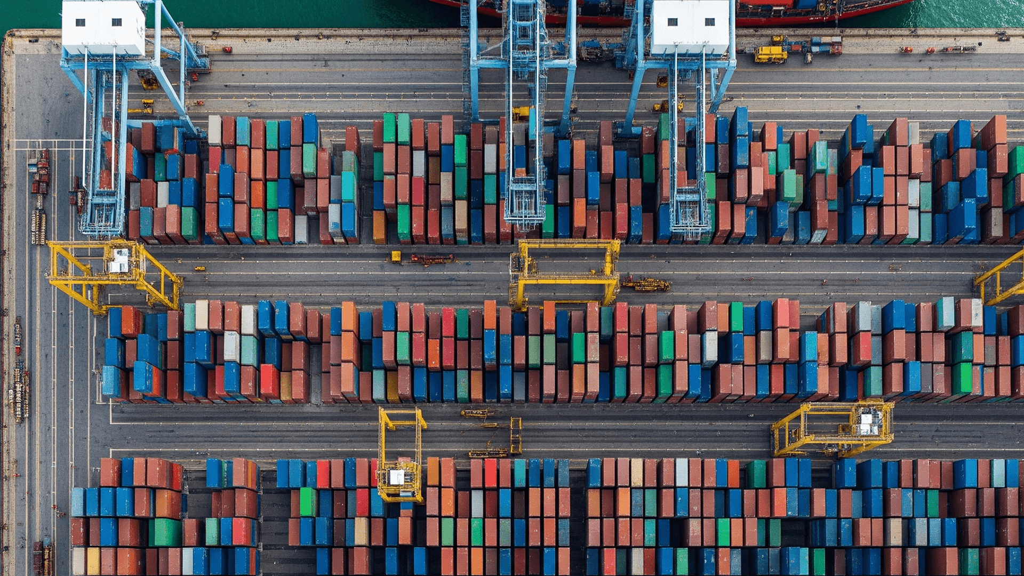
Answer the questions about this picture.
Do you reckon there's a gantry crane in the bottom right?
Yes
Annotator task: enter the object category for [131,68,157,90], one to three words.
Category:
work vehicle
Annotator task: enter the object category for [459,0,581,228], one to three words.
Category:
container crane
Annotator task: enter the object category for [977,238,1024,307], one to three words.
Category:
container crane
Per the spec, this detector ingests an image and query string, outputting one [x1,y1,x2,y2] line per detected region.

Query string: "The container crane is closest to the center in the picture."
[510,235,618,316]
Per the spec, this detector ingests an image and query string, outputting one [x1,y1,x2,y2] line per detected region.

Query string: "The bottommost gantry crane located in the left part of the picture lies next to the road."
[374,401,434,507]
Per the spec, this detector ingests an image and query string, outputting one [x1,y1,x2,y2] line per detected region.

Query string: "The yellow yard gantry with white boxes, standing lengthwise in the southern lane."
[772,400,897,460]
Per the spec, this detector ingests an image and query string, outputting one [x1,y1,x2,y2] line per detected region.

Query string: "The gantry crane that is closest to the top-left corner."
[52,0,217,240]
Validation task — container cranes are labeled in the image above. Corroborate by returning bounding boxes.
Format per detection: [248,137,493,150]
[52,0,217,240]
[510,235,618,316]
[48,239,184,317]
[772,400,897,460]
[977,238,1024,307]
[374,401,434,507]
[605,0,740,243]
[459,0,581,228]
